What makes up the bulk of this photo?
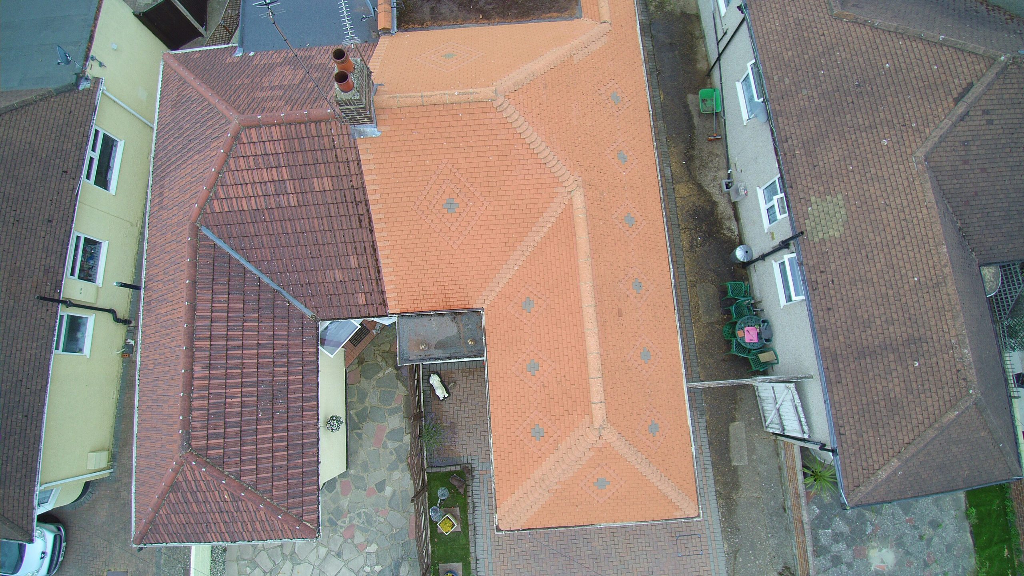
buildings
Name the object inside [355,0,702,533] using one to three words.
house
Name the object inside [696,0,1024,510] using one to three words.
house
